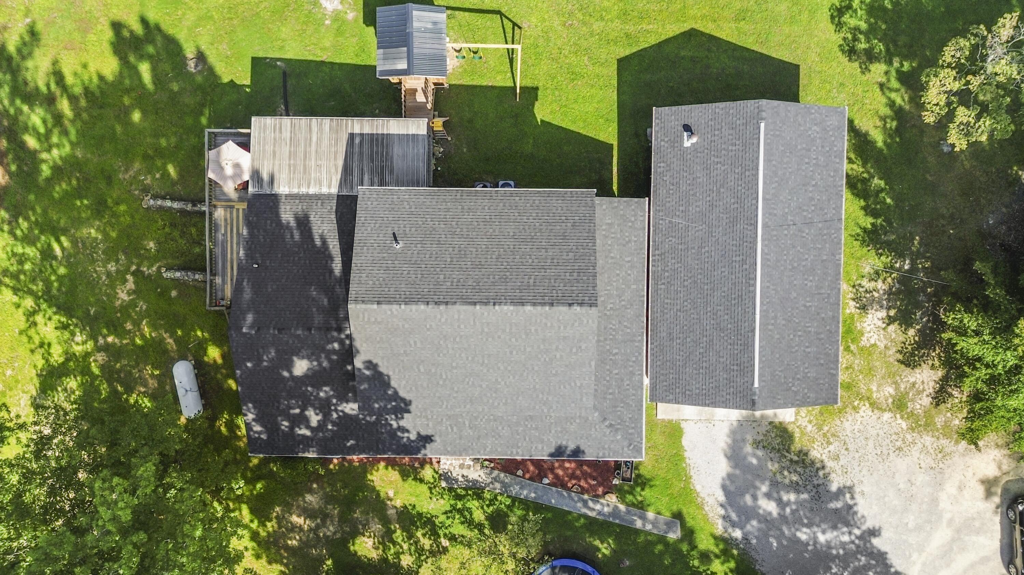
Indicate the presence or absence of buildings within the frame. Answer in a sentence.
Yes, there is a building in the image.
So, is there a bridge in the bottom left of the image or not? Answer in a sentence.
No, I see no bridge in the bottom left of the image.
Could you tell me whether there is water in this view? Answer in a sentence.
No, there's no water in this view.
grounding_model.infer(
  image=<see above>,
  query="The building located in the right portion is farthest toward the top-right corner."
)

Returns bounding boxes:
[644,100,849,413]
